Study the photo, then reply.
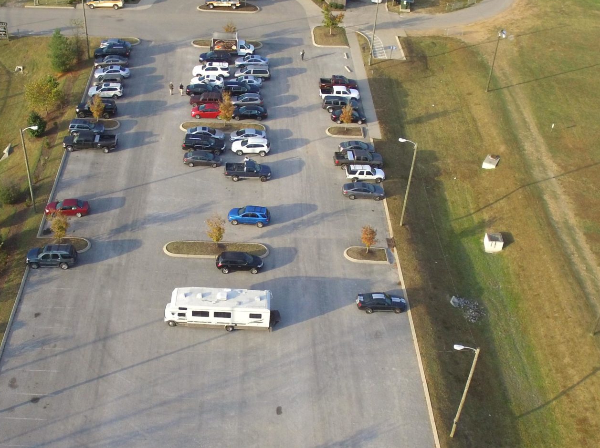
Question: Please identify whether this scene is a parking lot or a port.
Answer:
parking lot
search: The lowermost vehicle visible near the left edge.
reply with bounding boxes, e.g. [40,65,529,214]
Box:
[26,243,81,268]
